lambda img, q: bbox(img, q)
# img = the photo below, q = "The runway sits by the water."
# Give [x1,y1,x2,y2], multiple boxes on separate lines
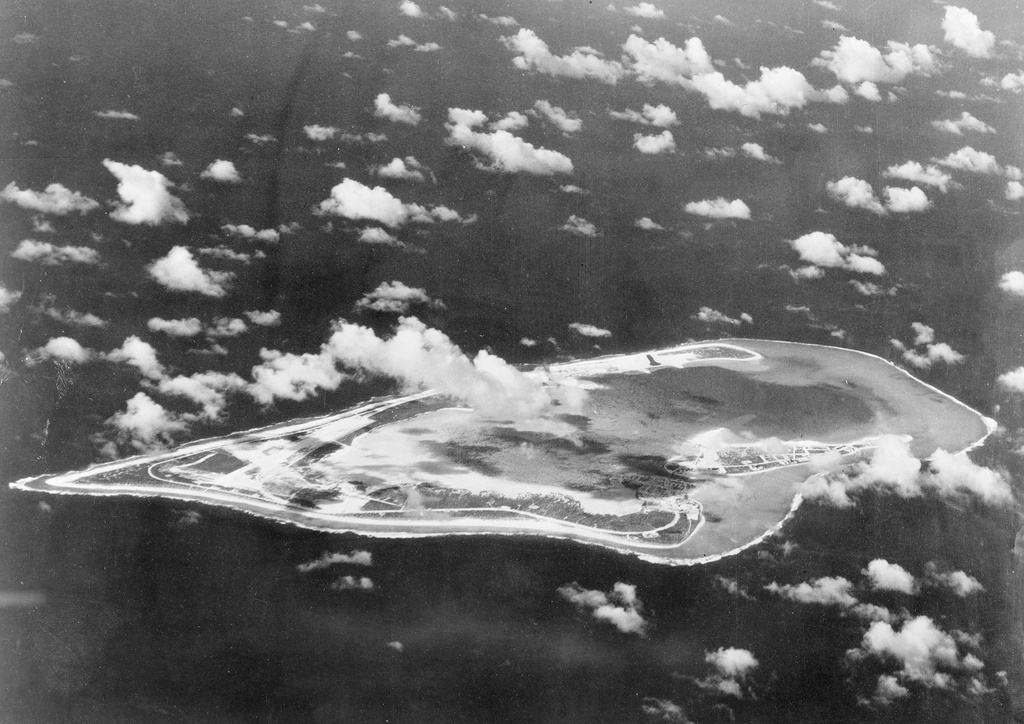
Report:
[217,417,375,487]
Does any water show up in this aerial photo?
Yes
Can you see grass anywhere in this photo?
No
